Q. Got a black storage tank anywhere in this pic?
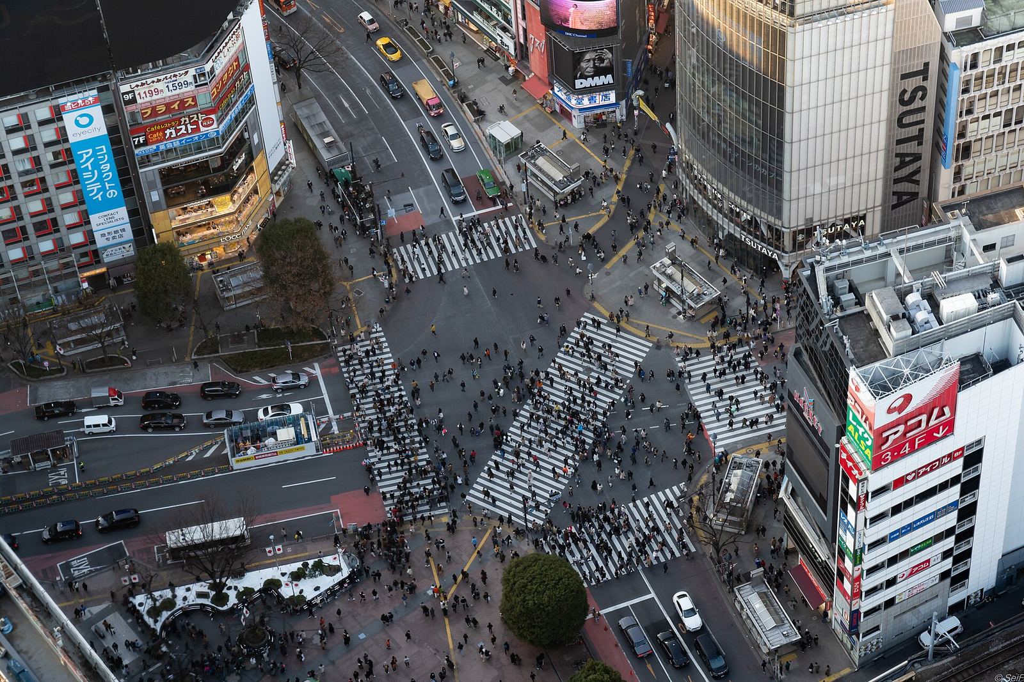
No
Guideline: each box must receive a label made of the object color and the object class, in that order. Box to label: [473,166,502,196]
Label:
green car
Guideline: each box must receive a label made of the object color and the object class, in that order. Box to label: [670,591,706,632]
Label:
white car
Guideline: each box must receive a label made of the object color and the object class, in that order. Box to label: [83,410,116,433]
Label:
white vehicle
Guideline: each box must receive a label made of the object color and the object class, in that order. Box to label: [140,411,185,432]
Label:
black car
